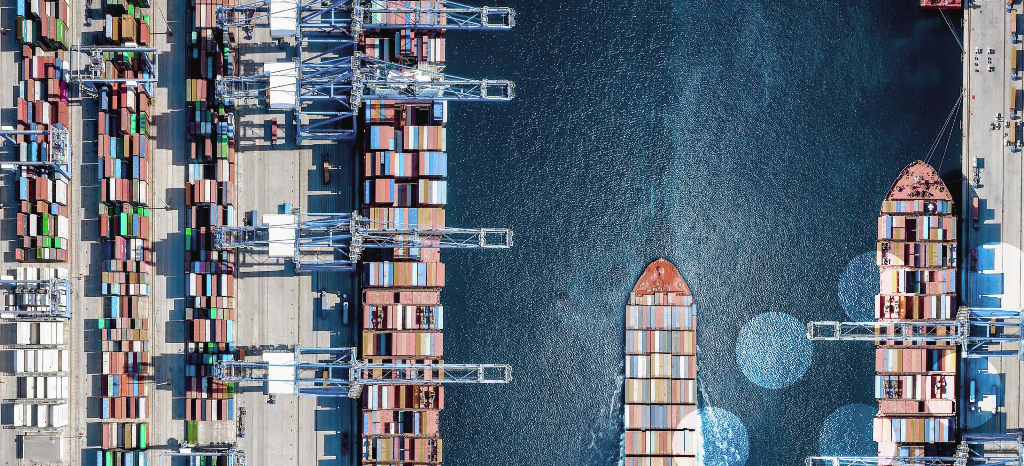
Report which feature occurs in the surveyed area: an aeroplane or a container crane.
container crane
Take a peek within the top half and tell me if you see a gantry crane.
Yes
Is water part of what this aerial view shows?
Yes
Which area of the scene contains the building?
bottom left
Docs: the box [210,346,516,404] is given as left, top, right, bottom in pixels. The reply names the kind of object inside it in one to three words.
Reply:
container crane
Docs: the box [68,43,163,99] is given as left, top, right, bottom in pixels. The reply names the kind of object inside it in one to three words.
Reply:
container crane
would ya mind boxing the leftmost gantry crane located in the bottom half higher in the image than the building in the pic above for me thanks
[0,276,77,328]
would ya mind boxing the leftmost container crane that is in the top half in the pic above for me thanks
[0,124,77,179]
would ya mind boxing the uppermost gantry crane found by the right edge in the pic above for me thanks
[809,301,1024,362]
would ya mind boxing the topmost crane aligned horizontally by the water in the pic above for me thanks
[210,0,516,67]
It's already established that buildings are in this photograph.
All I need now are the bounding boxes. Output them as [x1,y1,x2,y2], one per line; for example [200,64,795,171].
[19,437,66,461]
